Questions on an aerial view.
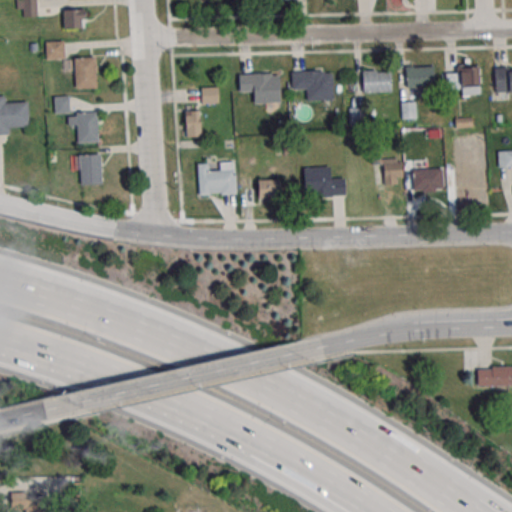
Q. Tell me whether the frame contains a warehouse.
No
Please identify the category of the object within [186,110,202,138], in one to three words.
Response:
house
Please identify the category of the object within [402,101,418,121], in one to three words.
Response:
building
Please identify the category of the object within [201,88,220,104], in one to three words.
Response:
building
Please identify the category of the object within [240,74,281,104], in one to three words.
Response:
house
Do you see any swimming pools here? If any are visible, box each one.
[292,104,313,122]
